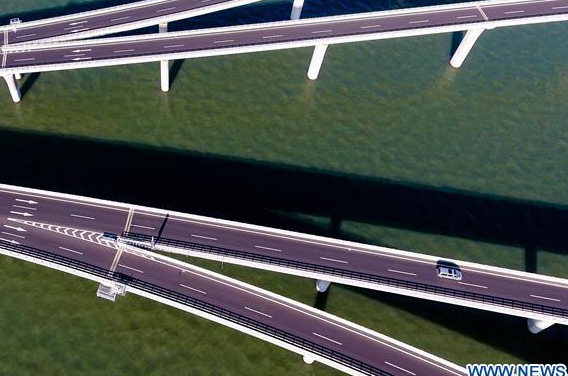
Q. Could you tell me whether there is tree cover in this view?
No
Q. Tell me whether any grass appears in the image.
No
